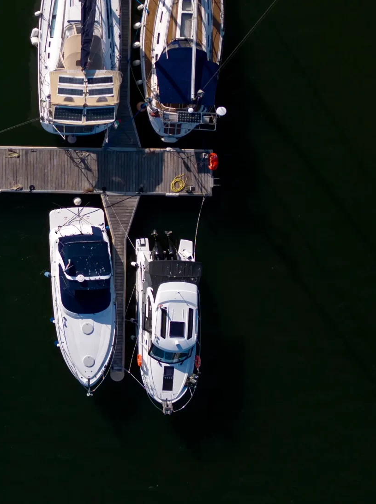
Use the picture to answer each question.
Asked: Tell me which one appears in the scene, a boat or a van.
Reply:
boat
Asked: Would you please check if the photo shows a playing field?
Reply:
No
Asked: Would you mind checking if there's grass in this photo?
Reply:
No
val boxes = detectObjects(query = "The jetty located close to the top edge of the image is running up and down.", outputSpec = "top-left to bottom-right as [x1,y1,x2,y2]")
[100,0,142,149]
